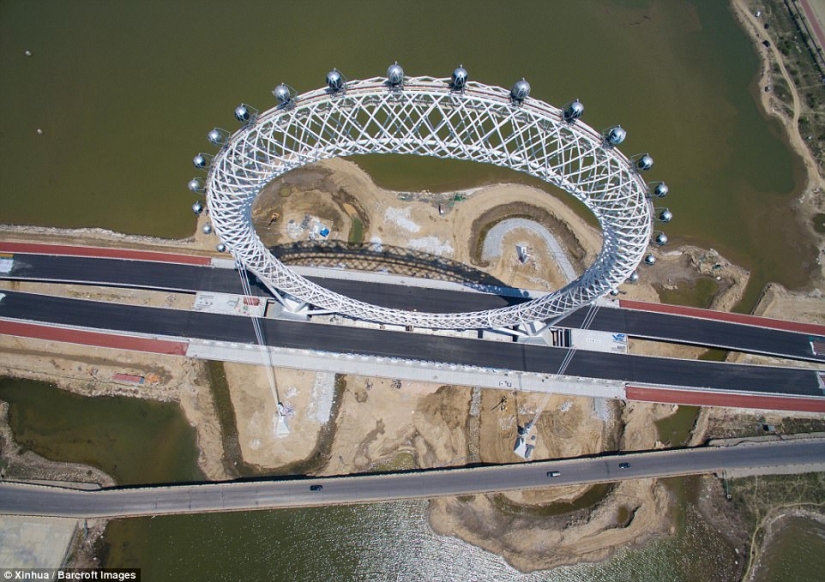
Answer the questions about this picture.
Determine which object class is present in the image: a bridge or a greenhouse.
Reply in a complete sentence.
I can see a bridge in this picture.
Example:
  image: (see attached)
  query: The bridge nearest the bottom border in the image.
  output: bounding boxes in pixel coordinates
[0,442,825,518]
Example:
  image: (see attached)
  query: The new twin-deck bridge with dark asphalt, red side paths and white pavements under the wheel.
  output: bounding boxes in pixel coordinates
[0,242,825,413]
